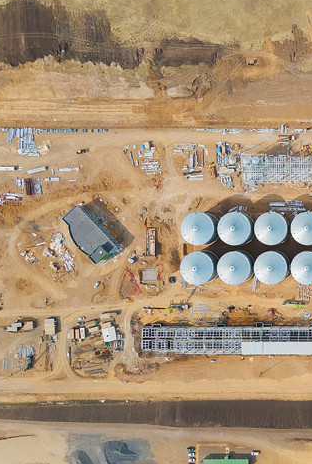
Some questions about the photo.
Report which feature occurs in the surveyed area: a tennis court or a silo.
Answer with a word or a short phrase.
silo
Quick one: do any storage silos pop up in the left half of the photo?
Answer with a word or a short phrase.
No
